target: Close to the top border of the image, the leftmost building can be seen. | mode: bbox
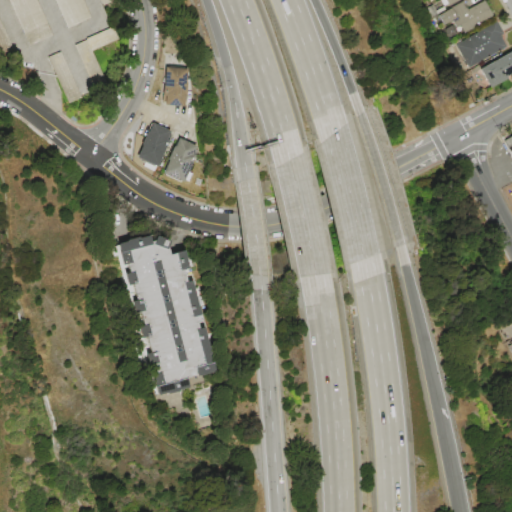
[12,0,52,44]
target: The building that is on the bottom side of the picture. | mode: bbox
[116,236,217,394]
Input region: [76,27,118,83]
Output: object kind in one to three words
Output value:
building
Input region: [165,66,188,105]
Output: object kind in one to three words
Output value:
house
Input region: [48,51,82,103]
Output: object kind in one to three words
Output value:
building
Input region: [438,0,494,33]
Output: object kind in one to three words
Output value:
house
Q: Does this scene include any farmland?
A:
No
